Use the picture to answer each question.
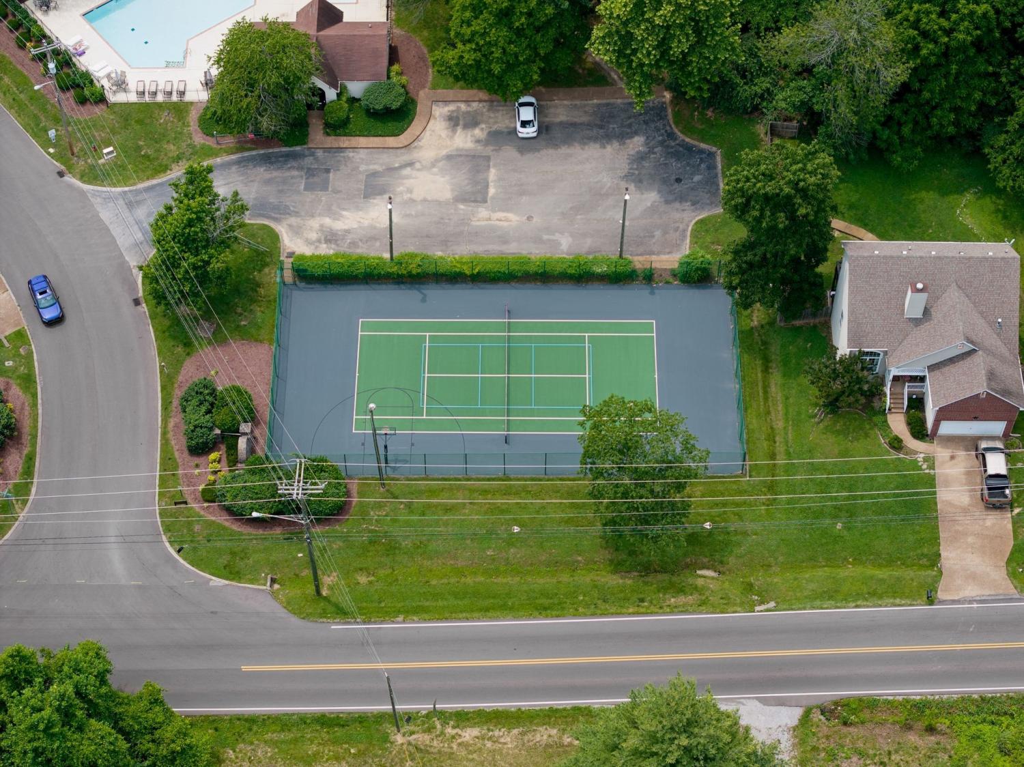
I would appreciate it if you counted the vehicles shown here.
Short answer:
3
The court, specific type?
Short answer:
tennis court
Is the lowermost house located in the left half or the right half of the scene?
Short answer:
right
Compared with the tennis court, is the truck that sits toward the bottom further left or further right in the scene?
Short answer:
to the right of it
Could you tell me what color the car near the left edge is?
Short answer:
blue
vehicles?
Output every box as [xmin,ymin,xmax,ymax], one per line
[514,97,539,140]
[976,439,1012,509]
[28,275,64,326]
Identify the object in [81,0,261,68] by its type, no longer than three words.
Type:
swimming pool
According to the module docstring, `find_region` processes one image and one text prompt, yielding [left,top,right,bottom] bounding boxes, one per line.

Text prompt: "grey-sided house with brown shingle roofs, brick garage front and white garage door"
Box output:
[829,241,1024,437]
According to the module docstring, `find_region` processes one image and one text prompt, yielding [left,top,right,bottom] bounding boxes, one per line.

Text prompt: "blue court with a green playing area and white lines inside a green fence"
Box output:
[269,282,745,479]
